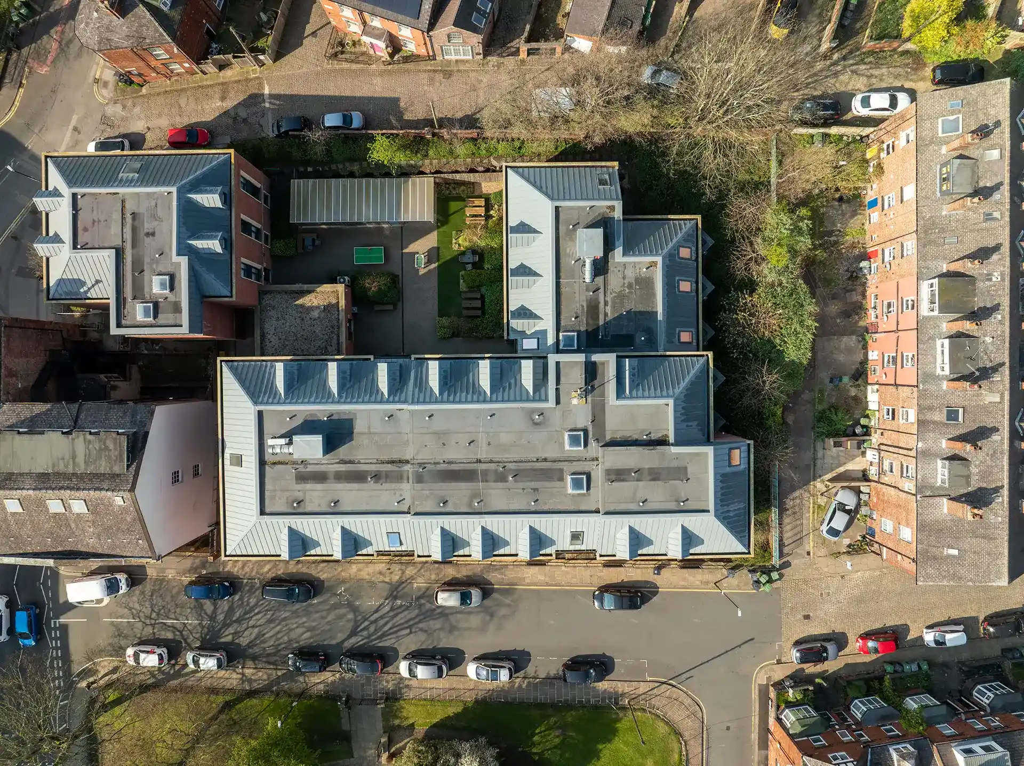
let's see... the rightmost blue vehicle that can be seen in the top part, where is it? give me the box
[320,108,366,130]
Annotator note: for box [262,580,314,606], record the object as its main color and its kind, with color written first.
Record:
black car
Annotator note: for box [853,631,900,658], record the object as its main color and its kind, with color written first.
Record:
red car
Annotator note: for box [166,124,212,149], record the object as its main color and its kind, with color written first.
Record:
red car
